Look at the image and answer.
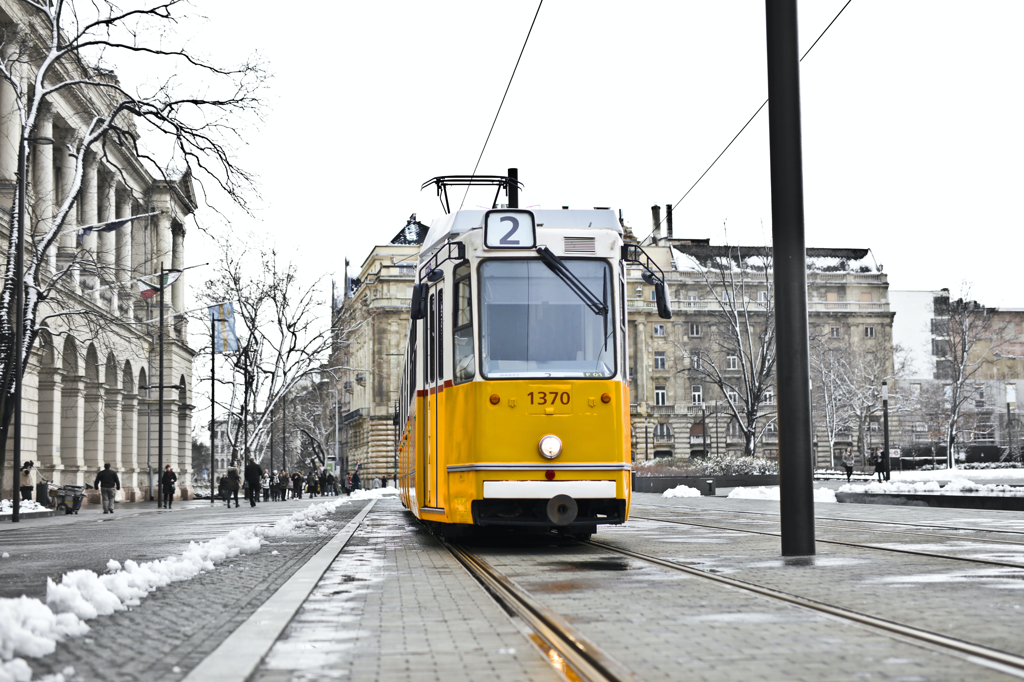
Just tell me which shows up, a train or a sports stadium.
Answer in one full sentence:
The image shows a train.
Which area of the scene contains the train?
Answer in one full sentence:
The train sits in the center section of the image.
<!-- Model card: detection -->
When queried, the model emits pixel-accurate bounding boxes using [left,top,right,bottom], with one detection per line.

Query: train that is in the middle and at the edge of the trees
[401,173,674,546]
